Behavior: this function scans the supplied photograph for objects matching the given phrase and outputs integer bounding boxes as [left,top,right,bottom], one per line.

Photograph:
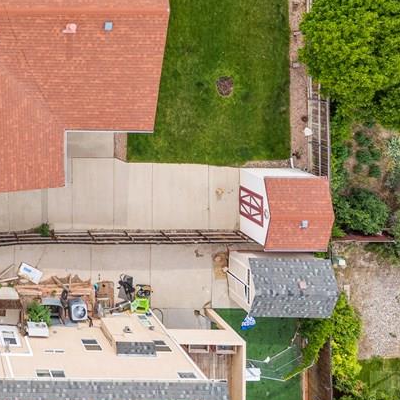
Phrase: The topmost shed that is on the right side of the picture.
[240,171,338,252]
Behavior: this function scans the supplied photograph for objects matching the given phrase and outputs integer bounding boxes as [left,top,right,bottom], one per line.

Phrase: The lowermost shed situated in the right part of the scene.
[229,247,340,318]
